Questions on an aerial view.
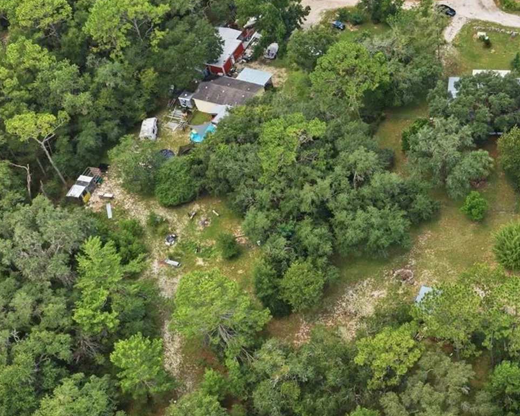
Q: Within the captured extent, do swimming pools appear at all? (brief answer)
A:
Yes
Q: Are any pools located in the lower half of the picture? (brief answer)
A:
No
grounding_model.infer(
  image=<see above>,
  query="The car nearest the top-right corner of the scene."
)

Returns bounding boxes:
[435,0,456,13]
